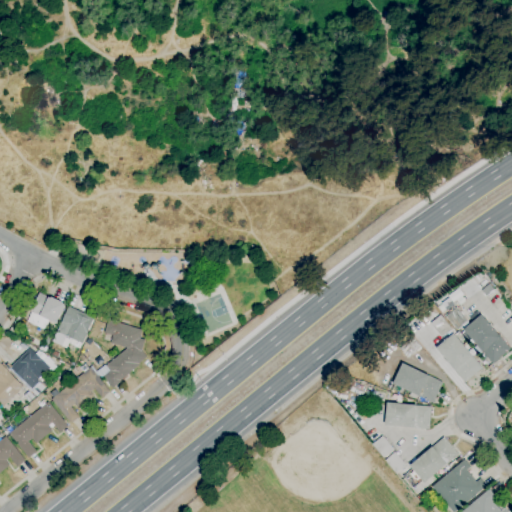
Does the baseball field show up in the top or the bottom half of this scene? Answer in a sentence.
You can find the baseball field in the bottom half.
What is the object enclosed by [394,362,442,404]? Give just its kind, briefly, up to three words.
house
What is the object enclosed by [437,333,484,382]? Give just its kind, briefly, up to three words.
building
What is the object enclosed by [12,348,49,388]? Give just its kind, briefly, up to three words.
house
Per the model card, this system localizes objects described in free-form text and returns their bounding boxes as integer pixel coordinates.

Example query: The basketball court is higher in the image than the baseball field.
[192,285,239,337]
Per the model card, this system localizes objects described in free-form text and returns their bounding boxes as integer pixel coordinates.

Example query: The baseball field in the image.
[192,419,399,512]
